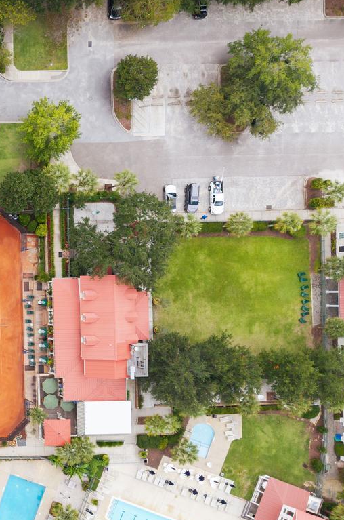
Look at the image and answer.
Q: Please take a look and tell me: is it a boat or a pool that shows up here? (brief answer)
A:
pool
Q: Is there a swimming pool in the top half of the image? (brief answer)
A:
No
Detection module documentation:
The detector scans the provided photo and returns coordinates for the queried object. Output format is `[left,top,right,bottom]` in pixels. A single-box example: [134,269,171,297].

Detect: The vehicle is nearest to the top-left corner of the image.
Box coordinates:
[107,0,120,19]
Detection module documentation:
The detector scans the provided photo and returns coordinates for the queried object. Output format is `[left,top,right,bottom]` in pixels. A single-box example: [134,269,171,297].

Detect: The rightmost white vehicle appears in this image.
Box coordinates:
[207,180,225,215]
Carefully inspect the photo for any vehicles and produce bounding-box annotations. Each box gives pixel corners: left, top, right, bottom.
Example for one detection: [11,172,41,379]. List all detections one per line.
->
[193,0,209,20]
[207,180,225,215]
[107,0,120,19]
[162,184,178,207]
[183,183,200,212]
